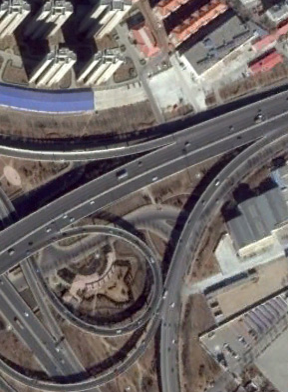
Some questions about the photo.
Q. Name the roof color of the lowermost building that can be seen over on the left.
blue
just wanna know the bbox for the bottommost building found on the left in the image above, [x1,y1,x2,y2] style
[0,84,94,114]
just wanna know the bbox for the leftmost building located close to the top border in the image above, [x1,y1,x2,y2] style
[0,0,30,40]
